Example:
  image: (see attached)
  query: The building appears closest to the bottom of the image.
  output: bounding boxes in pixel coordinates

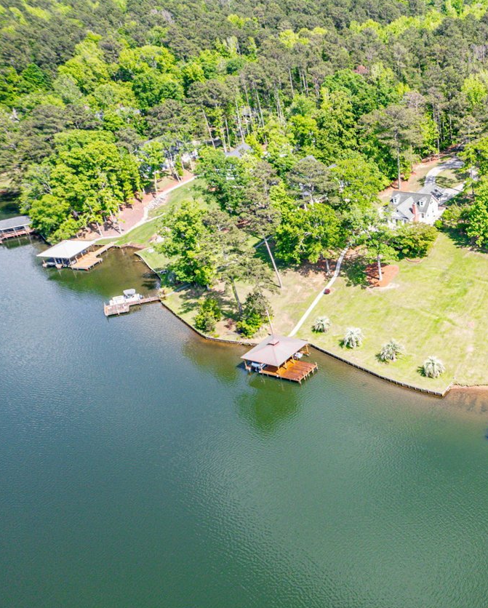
[241,333,323,386]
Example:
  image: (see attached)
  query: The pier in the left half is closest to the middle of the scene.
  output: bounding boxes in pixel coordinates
[107,297,161,319]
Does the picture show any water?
Yes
